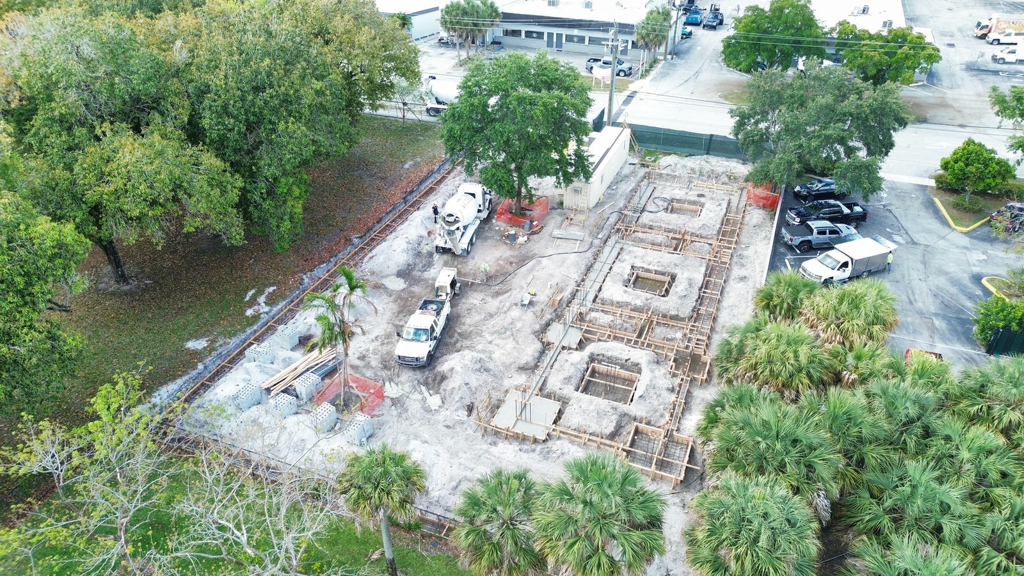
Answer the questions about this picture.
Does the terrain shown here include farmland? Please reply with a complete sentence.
No, no farmland is visible.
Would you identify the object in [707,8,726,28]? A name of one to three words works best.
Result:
vehicle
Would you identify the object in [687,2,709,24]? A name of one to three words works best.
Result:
truck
